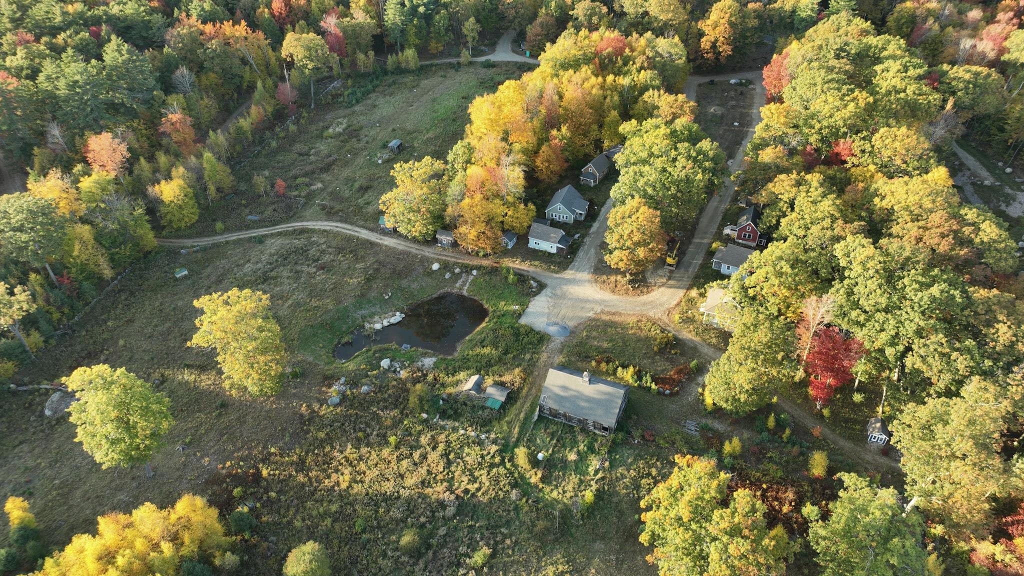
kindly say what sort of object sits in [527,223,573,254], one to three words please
house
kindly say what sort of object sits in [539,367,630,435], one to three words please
barn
